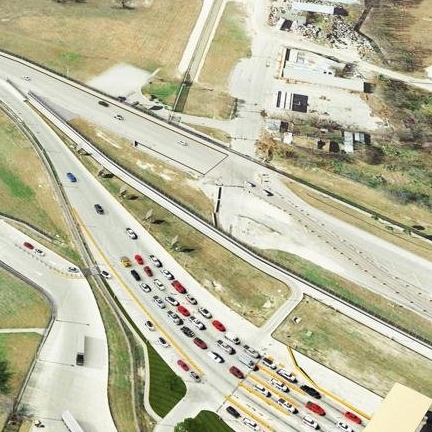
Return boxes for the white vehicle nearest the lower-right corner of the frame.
[334,419,356,432]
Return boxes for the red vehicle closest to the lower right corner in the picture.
[342,410,363,425]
